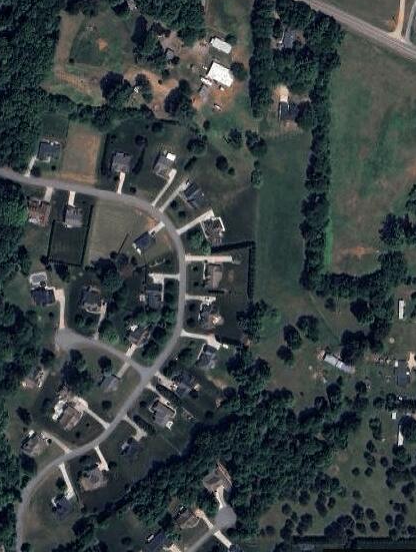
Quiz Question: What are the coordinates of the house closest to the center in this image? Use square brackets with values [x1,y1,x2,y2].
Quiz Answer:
[204,261,223,285]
